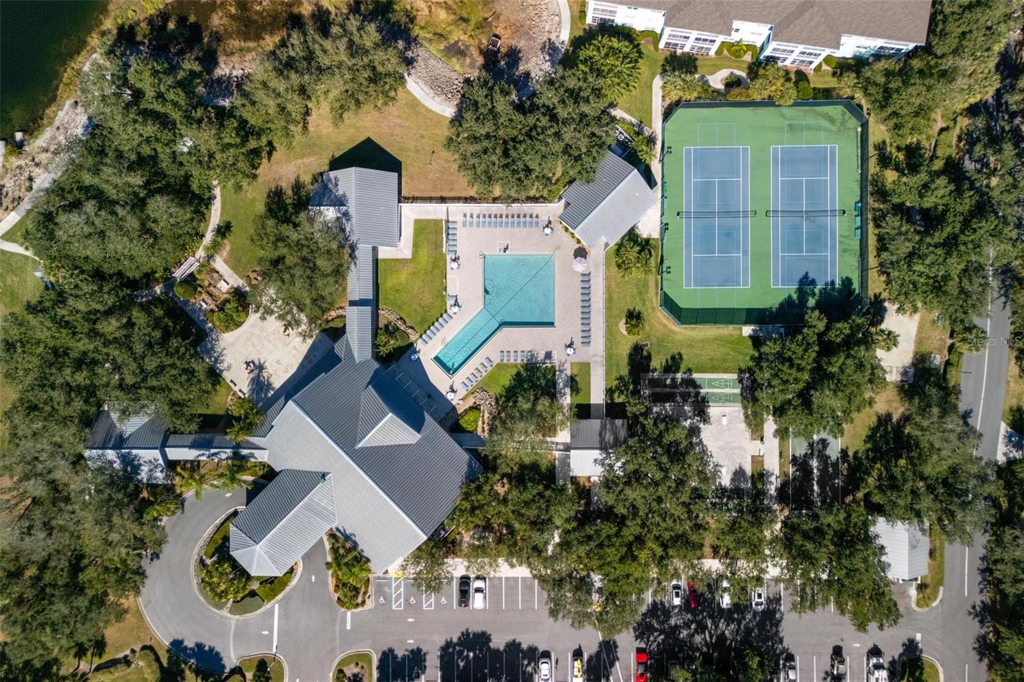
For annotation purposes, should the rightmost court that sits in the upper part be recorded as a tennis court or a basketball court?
tennis court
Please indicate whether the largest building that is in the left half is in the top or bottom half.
bottom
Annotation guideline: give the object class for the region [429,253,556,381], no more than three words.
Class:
swimming pool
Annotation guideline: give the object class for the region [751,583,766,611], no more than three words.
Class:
car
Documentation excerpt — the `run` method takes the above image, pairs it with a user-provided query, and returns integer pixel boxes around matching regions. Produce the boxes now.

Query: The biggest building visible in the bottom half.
[230,334,483,575]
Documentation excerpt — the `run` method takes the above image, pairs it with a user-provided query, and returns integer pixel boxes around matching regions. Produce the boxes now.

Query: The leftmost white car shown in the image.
[472,577,486,607]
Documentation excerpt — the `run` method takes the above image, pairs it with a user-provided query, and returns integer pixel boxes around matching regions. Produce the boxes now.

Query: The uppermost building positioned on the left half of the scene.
[308,166,398,248]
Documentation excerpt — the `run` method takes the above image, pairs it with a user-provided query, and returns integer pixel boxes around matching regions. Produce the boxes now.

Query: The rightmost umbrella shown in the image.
[571,254,586,269]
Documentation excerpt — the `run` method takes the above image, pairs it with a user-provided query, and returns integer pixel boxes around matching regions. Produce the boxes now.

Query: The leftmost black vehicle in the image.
[457,577,471,607]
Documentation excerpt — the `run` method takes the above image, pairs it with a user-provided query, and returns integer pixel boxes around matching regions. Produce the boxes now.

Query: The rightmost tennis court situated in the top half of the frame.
[760,106,860,325]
